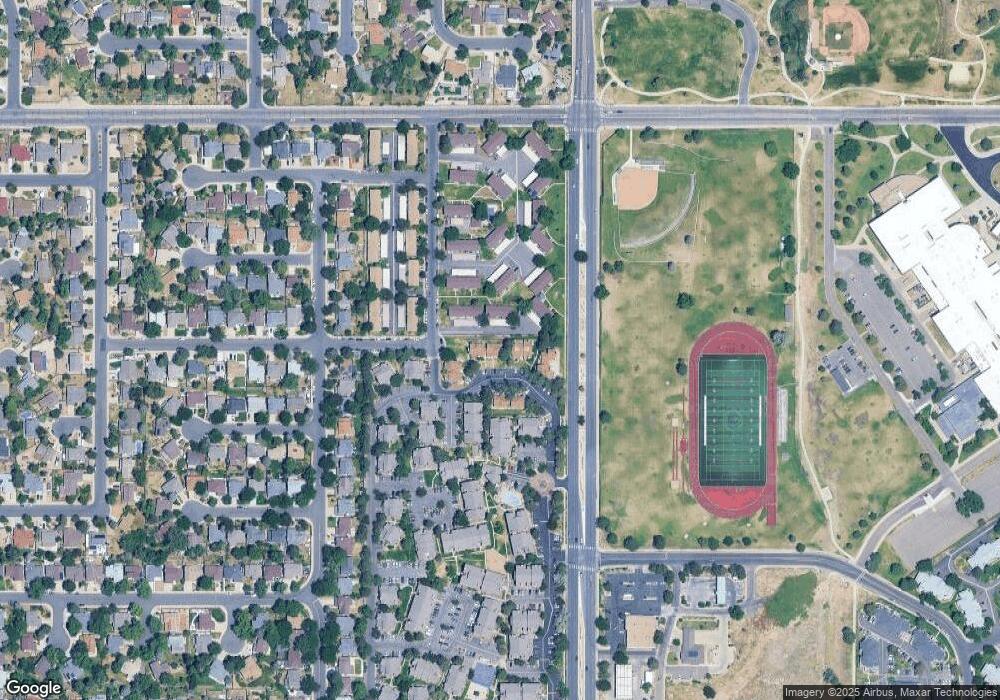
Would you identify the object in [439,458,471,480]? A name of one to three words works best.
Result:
building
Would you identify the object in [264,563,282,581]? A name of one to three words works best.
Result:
house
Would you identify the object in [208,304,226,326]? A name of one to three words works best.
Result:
house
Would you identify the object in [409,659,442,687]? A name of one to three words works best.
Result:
building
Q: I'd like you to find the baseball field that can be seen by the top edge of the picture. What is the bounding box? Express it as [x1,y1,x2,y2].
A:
[810,0,870,62]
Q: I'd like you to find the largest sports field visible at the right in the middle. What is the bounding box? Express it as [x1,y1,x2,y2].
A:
[699,354,767,486]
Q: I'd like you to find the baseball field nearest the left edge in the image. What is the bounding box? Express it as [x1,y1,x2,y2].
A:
[612,143,726,262]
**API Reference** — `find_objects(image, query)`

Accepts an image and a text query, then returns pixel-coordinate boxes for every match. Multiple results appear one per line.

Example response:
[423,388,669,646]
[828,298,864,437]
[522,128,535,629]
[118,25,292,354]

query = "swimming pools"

[499,483,527,513]
[484,203,497,219]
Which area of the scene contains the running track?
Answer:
right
